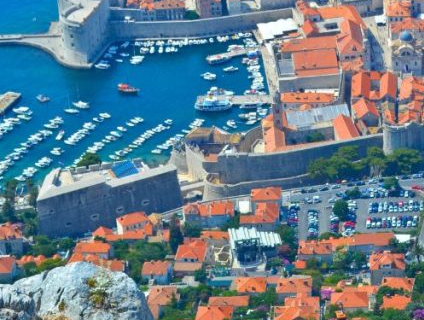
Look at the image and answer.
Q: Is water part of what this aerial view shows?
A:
Yes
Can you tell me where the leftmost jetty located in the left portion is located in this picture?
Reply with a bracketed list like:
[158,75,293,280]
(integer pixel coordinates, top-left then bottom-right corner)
[0,92,22,114]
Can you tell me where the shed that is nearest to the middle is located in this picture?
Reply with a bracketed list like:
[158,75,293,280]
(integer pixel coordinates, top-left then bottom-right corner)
[192,120,245,151]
